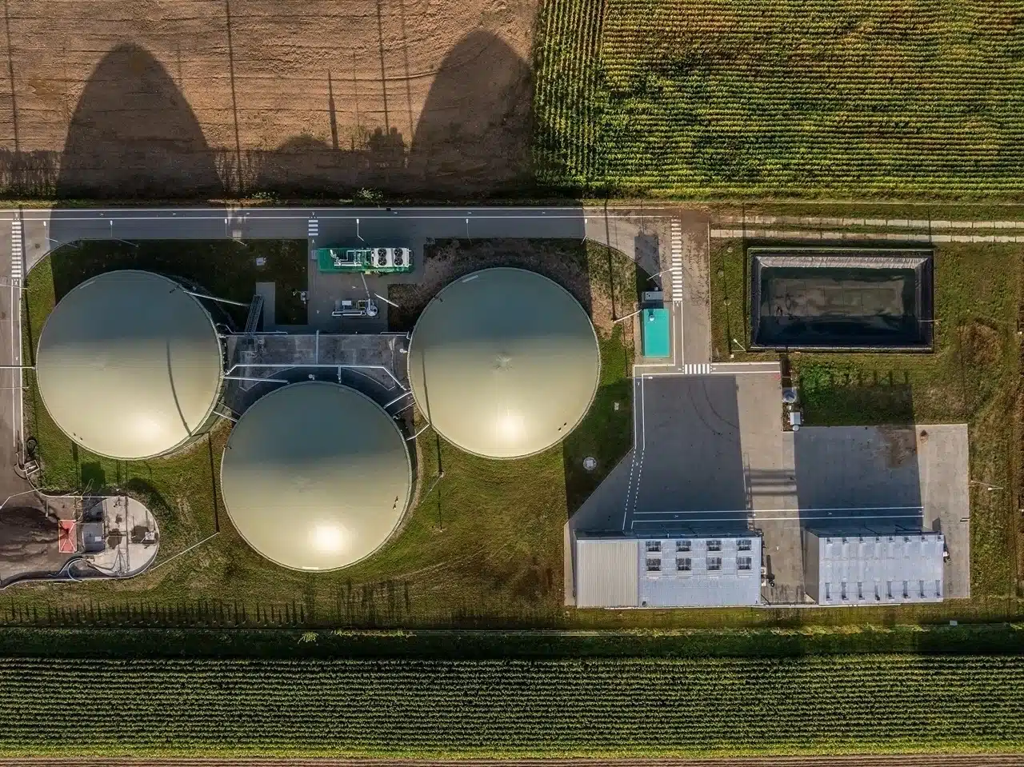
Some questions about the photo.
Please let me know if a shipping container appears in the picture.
Yes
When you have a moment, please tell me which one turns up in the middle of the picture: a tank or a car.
tank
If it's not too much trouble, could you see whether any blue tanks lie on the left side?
No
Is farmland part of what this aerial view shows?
Yes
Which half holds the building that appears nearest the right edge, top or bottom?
bottom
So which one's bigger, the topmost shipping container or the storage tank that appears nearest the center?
the storage tank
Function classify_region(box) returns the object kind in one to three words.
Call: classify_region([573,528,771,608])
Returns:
building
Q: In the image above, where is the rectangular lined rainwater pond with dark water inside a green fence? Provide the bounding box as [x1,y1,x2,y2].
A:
[752,251,935,349]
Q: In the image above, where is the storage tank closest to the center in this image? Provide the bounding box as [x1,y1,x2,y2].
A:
[408,267,600,459]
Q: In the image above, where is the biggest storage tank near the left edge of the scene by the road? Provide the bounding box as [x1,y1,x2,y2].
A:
[35,271,233,458]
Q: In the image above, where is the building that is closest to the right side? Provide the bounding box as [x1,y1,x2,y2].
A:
[805,517,948,604]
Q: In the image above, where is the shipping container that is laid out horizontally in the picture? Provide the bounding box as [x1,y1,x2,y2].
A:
[312,248,416,275]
